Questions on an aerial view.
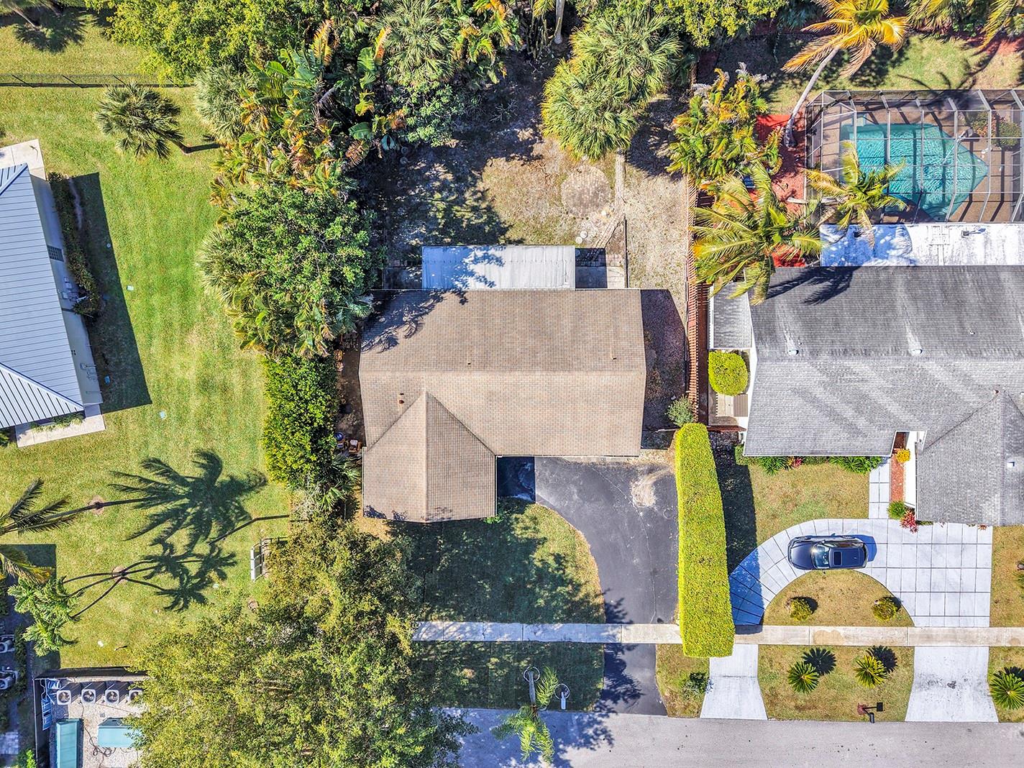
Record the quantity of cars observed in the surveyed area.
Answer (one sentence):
I count just 1 car.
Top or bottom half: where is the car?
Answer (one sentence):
You can find the car in the bottom half.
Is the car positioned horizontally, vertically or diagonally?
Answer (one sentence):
Seen from above, the car lies horizontally.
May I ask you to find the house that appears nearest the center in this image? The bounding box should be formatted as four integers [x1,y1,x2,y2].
[359,289,645,521]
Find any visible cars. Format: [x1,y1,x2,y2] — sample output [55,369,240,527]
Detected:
[788,536,868,572]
